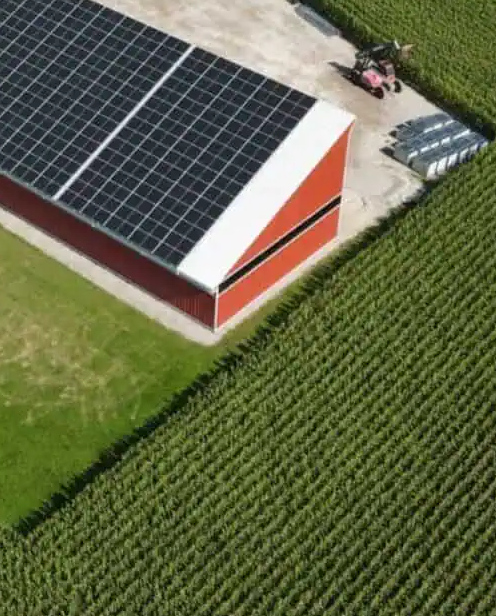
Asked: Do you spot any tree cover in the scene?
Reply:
No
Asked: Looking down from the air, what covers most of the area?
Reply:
farmland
